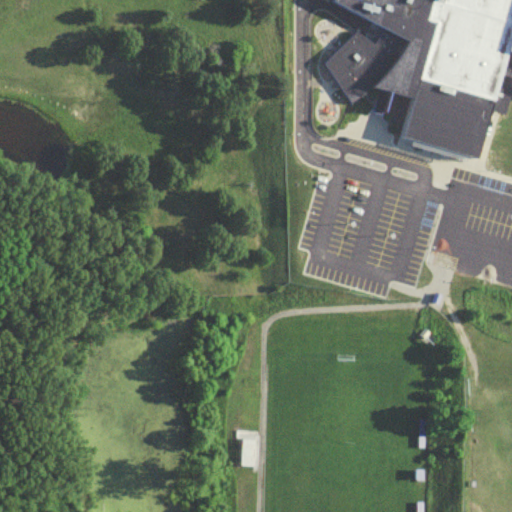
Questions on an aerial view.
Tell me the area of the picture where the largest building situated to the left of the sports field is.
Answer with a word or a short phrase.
bottom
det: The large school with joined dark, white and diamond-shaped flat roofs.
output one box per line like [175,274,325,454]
[326,0,512,162]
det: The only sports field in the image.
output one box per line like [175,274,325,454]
[262,308,429,512]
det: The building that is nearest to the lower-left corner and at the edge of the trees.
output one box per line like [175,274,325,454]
[236,429,259,468]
